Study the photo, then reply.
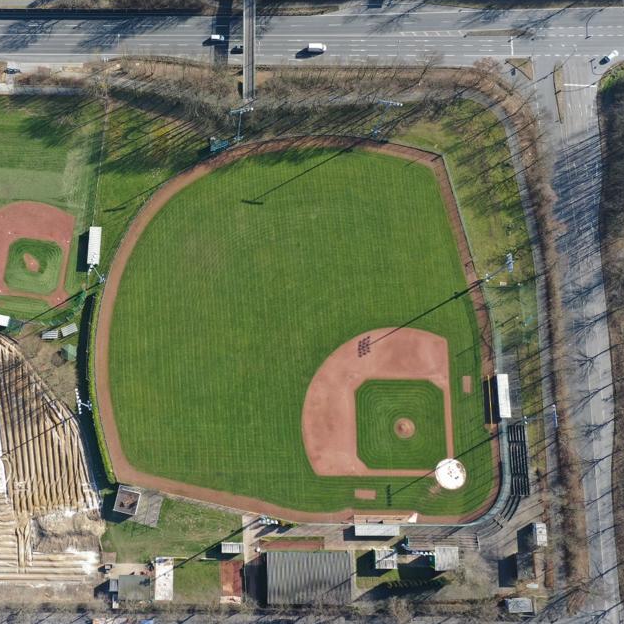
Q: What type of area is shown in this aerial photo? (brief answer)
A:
sports ground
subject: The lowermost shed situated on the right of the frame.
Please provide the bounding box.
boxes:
[504,596,534,613]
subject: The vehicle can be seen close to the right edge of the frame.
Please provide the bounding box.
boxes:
[606,48,621,61]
